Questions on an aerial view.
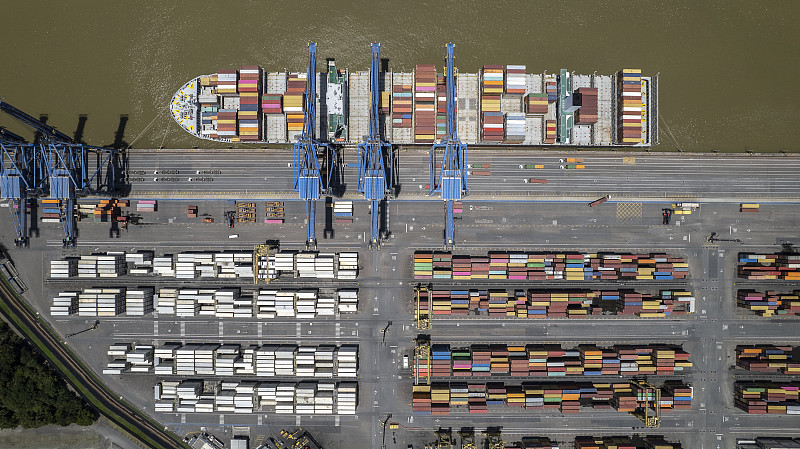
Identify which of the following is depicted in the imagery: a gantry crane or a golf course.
gantry crane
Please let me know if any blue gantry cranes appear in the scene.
Yes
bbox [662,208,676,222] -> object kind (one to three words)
work vehicle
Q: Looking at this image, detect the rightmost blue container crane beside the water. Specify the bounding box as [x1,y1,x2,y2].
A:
[423,43,470,251]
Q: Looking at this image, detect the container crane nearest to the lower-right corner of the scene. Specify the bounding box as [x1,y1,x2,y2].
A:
[635,375,662,426]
